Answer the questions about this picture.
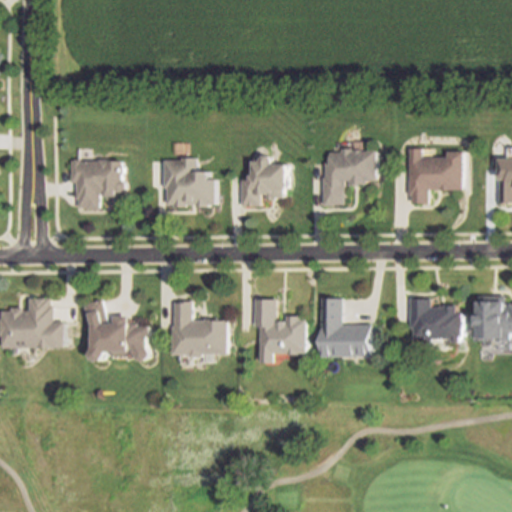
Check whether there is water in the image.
No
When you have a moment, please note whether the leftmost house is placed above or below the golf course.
above it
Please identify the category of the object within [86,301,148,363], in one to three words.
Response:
house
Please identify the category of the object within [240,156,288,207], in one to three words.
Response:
house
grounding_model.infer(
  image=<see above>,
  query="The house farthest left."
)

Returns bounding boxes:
[0,298,65,349]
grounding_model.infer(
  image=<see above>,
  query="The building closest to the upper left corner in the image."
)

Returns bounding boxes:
[71,160,126,210]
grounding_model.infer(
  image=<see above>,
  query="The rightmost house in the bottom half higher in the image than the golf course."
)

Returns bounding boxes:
[468,295,512,345]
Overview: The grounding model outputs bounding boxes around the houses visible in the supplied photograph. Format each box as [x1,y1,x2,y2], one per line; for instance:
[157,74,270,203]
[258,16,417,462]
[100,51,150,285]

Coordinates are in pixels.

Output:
[71,160,126,210]
[86,301,148,363]
[314,298,374,357]
[468,295,512,345]
[240,156,288,207]
[171,302,230,356]
[0,298,65,349]
[254,299,309,364]
[164,142,218,210]
[408,297,464,342]
[407,148,466,204]
[496,146,512,204]
[321,141,378,206]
